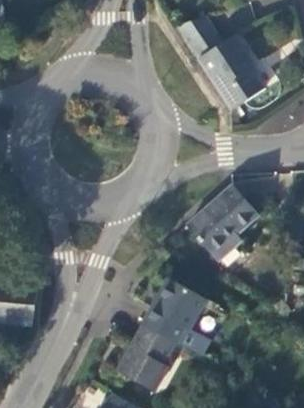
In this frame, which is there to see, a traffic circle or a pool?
traffic circle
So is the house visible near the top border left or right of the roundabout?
on its right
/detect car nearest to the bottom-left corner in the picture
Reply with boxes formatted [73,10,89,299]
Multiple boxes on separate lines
[76,319,92,342]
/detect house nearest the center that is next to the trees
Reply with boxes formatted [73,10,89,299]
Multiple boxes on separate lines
[186,182,267,268]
